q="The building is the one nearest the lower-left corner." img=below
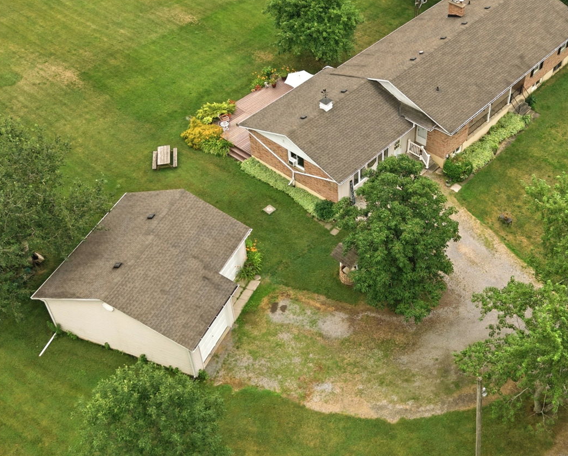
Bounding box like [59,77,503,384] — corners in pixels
[31,191,254,378]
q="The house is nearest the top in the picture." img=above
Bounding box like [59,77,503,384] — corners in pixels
[237,0,568,203]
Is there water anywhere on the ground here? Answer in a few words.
No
